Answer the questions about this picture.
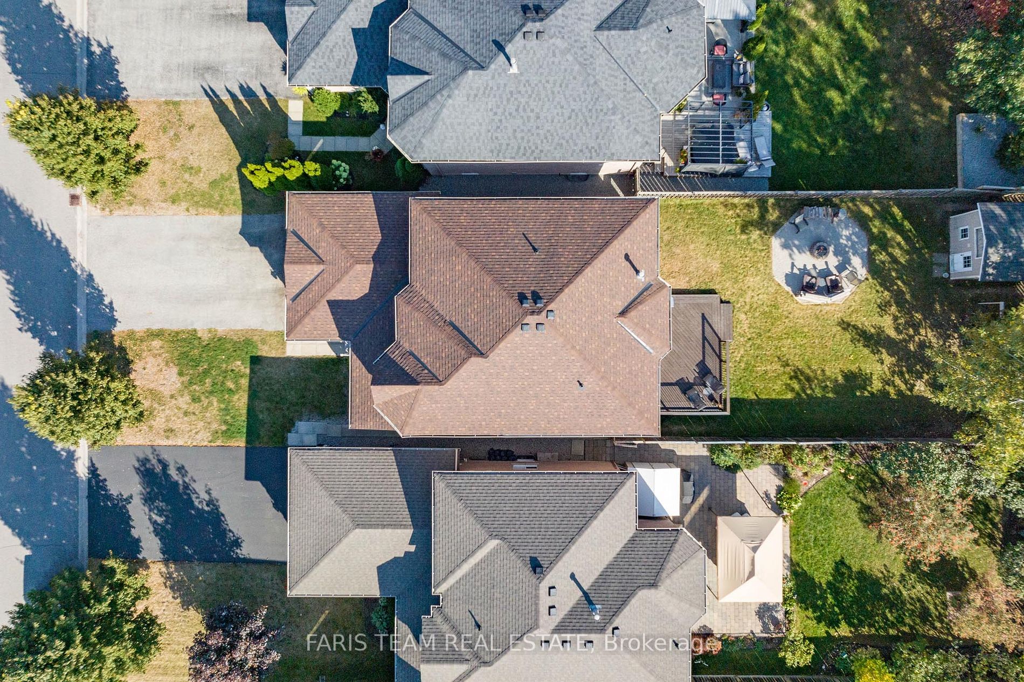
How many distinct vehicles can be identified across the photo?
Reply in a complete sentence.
Not a single vehicle can be seen.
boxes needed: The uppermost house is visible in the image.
[285,0,707,191]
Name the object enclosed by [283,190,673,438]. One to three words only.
house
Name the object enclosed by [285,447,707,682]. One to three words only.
house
